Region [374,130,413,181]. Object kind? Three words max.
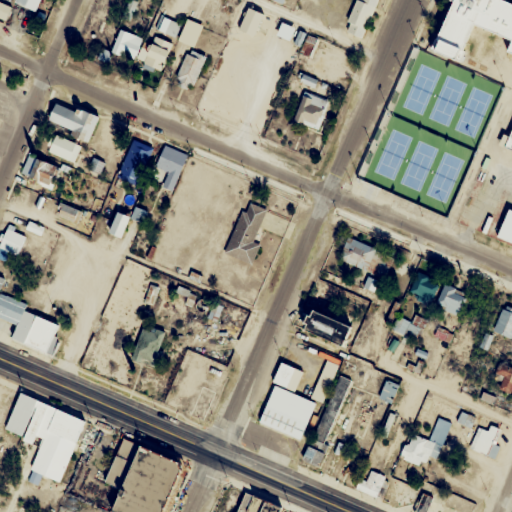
tennis court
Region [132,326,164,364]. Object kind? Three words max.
house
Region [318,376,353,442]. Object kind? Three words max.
shed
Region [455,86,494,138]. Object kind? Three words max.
tennis court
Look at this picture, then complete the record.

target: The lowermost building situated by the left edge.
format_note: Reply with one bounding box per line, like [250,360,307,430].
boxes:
[4,394,85,485]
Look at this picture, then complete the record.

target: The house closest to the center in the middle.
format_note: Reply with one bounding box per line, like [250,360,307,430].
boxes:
[225,202,267,260]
